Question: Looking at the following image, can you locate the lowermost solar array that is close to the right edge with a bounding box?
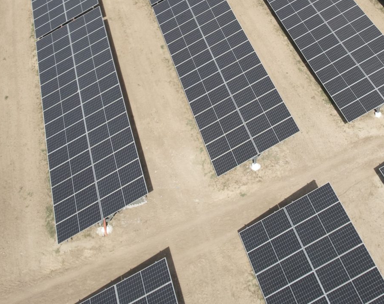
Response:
[239,183,384,304]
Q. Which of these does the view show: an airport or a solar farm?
solar farm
